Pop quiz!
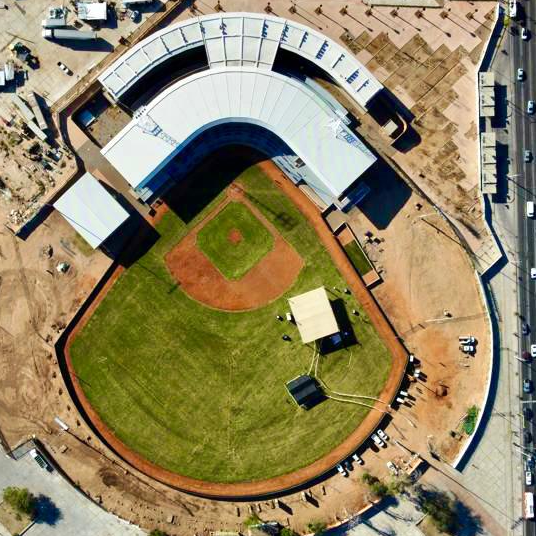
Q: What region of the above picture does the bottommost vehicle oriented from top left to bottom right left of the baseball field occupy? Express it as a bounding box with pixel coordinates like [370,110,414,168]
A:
[31,451,49,471]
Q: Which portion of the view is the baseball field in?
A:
center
